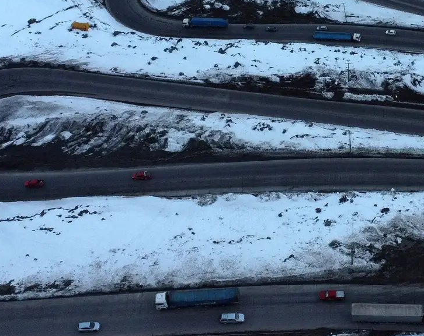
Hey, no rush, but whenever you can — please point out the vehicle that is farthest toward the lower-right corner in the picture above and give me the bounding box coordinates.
[352,300,424,328]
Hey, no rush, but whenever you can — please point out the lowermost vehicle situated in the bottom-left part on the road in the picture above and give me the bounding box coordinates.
[75,321,103,335]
